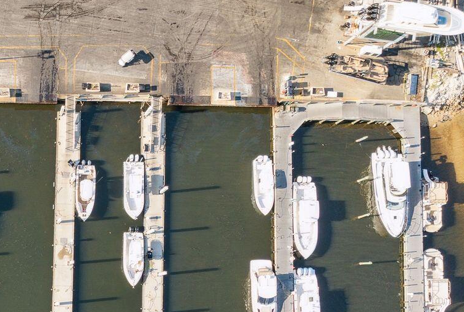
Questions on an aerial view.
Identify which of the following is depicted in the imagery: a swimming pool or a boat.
boat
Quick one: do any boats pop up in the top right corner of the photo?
Yes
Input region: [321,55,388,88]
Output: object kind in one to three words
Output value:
boat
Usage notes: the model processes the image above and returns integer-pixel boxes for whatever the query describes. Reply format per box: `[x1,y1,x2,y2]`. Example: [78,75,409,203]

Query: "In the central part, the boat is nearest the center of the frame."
[250,153,272,218]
